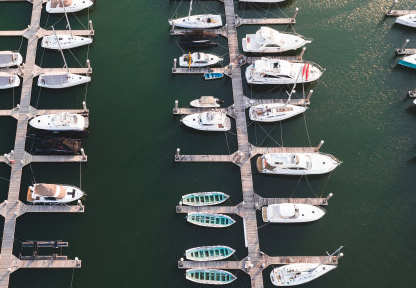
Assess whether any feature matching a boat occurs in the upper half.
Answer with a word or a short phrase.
Yes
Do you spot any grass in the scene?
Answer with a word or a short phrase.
No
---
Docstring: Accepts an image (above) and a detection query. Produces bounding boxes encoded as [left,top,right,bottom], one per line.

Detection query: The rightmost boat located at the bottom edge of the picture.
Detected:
[267,248,353,284]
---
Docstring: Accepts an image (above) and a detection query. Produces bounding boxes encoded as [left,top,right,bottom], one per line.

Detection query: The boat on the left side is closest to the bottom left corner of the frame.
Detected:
[28,186,85,207]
